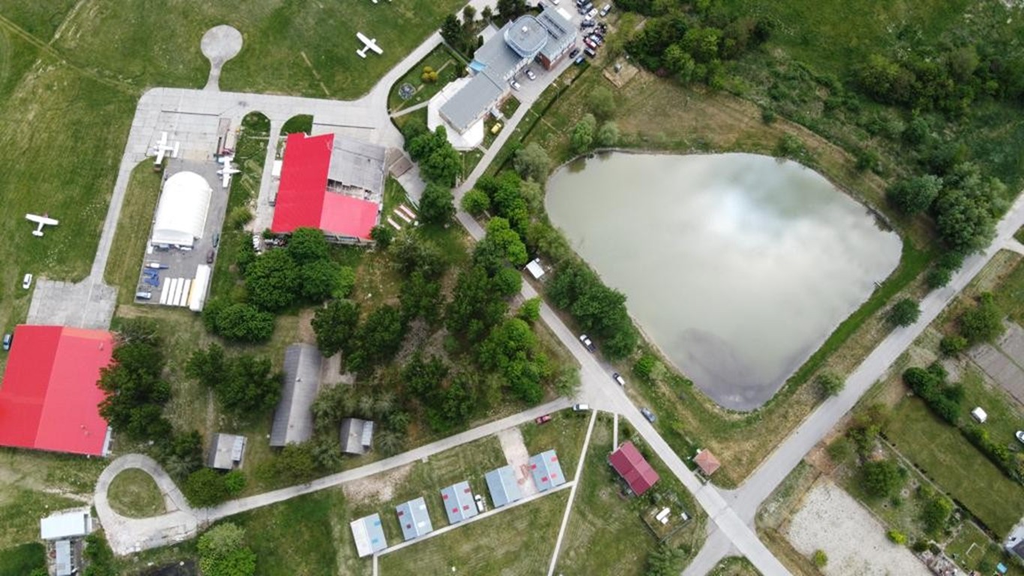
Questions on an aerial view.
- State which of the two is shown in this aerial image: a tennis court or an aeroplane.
aeroplane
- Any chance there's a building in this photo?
Yes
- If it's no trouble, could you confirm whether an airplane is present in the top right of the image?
No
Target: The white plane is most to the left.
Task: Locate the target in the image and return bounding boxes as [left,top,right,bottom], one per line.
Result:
[24,214,58,236]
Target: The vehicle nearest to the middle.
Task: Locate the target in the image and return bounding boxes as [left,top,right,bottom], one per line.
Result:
[579,335,595,353]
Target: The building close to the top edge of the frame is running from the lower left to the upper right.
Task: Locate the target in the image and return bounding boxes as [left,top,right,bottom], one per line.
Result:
[439,7,578,137]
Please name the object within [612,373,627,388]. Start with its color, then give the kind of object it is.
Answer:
white car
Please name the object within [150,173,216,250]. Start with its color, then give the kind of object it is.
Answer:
white tent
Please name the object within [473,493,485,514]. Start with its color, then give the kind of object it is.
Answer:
white vehicle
